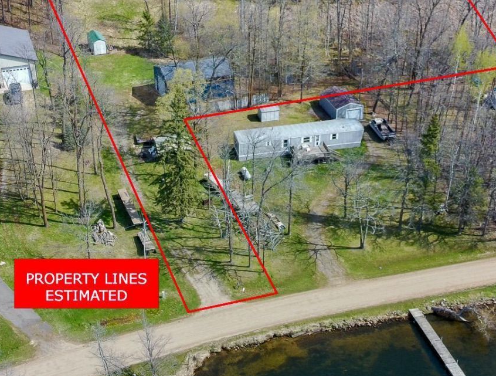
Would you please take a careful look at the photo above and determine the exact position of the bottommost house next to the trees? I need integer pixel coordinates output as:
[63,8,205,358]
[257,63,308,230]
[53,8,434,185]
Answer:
[232,117,364,159]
